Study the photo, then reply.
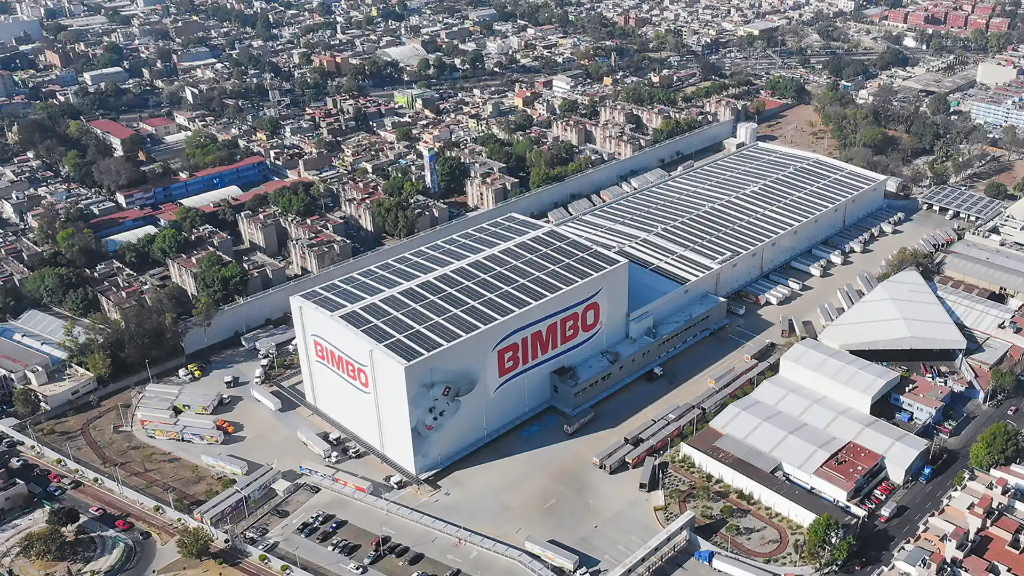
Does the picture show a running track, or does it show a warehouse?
warehouse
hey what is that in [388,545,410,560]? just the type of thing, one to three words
car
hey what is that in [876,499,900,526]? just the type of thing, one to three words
truck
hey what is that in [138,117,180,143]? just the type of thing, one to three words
building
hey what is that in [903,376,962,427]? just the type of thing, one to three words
house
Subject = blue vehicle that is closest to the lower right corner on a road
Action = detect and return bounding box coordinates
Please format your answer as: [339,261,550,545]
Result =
[917,462,939,487]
